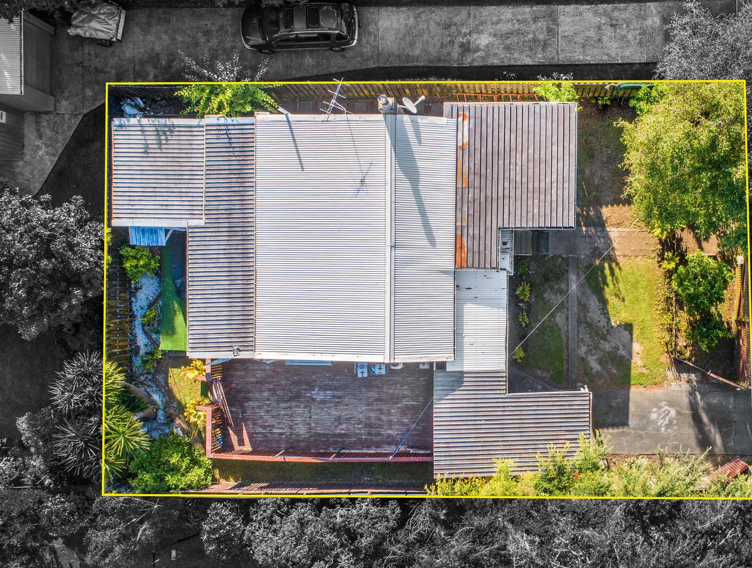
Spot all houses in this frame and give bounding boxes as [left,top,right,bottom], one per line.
[111,90,579,370]
[0,9,56,175]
